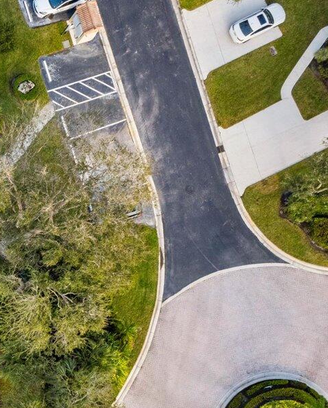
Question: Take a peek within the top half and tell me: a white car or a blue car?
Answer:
white car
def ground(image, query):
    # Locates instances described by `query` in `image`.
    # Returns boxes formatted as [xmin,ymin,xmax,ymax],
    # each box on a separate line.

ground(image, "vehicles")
[31,0,82,18]
[227,4,286,44]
